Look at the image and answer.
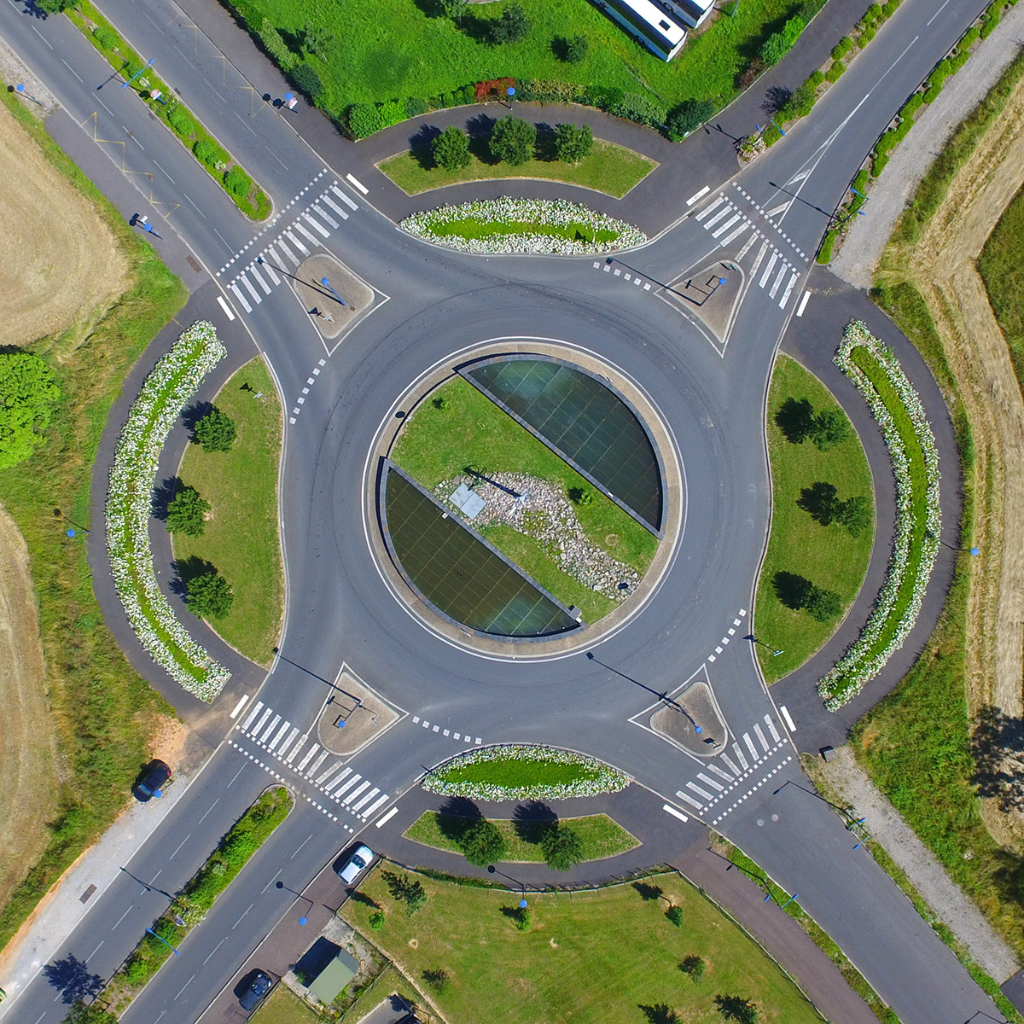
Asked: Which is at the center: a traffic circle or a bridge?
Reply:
traffic circle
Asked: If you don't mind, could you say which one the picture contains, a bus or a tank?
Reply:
bus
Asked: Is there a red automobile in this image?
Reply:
No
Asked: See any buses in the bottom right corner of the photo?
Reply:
No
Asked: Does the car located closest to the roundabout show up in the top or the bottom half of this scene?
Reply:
bottom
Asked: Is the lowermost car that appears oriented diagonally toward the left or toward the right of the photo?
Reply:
left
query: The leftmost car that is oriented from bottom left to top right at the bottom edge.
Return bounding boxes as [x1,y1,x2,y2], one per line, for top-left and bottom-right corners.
[235,967,274,1014]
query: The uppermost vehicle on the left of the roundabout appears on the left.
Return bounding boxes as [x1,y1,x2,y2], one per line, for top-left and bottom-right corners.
[134,757,172,803]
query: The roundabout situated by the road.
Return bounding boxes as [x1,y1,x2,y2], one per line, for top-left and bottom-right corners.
[266,216,785,781]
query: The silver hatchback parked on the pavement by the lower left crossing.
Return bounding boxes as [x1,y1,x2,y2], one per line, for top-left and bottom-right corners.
[334,845,375,889]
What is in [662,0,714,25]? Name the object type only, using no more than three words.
bus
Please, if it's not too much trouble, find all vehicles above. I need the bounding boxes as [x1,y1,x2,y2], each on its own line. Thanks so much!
[134,757,172,803]
[662,0,714,25]
[589,0,688,59]
[334,845,375,889]
[0,990,14,1019]
[235,967,274,1014]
